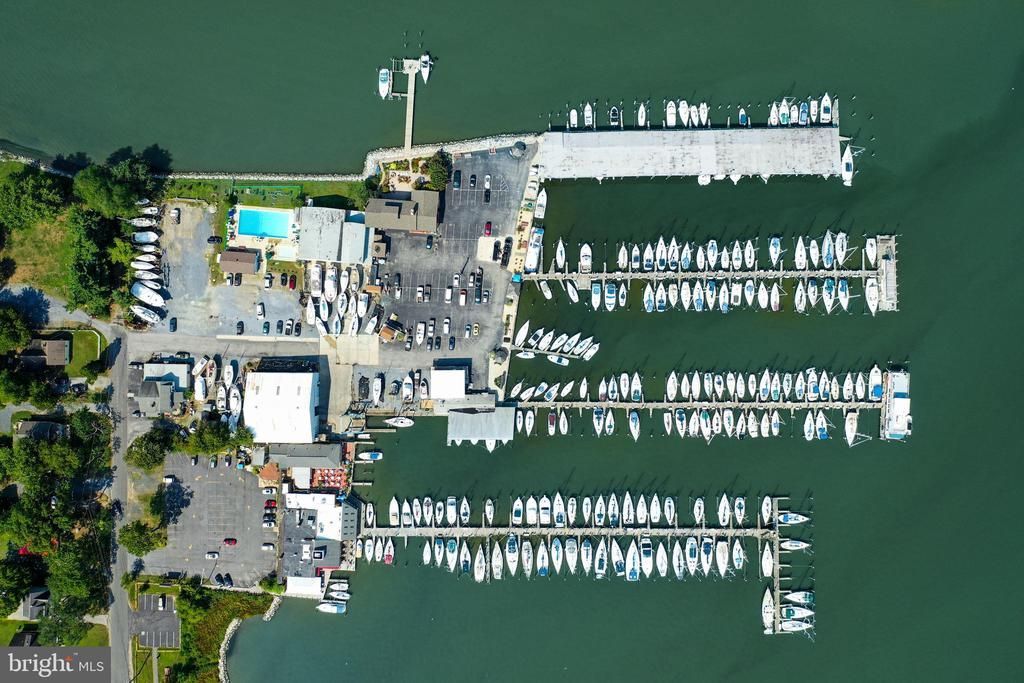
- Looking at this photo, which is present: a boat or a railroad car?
boat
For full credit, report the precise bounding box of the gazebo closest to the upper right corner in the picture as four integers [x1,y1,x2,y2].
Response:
[511,142,524,157]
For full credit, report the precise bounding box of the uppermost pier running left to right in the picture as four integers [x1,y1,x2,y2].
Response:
[541,99,852,179]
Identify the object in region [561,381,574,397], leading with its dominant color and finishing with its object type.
white boat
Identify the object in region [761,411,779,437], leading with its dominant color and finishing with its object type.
white boat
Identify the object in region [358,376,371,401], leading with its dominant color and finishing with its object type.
black boat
